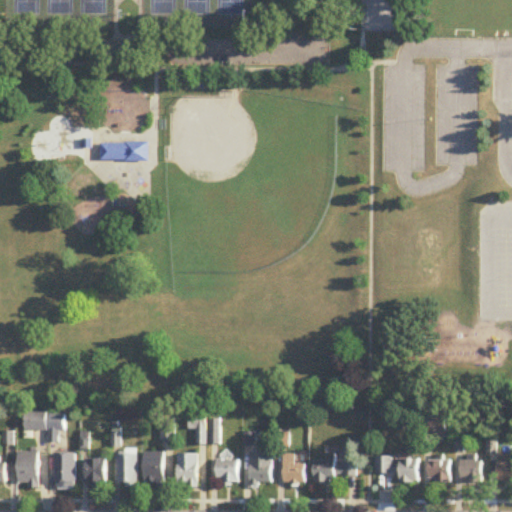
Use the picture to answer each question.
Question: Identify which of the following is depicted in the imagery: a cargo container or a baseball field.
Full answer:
Looking from above, you can make out a baseball field.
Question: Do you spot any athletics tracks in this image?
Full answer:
No, there appears to be no athletics track in this shot.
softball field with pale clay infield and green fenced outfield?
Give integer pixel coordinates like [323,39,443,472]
[164,88,338,292]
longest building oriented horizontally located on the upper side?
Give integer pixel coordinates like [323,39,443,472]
[101,142,148,161]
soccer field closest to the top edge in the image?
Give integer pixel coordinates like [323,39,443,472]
[434,0,512,36]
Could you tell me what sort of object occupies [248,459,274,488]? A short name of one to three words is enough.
house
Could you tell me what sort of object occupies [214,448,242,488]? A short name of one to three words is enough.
house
